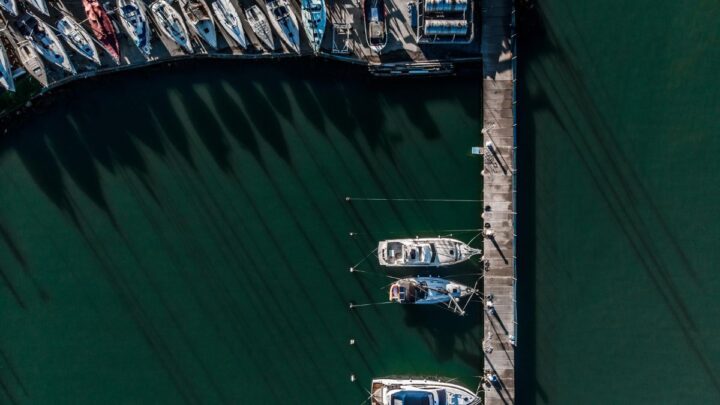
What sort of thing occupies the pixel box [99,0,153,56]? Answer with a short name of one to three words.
boat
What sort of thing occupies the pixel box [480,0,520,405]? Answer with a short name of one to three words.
pier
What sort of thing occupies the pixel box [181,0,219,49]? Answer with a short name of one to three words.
boat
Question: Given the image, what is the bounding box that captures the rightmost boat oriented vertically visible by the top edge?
[363,0,387,52]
